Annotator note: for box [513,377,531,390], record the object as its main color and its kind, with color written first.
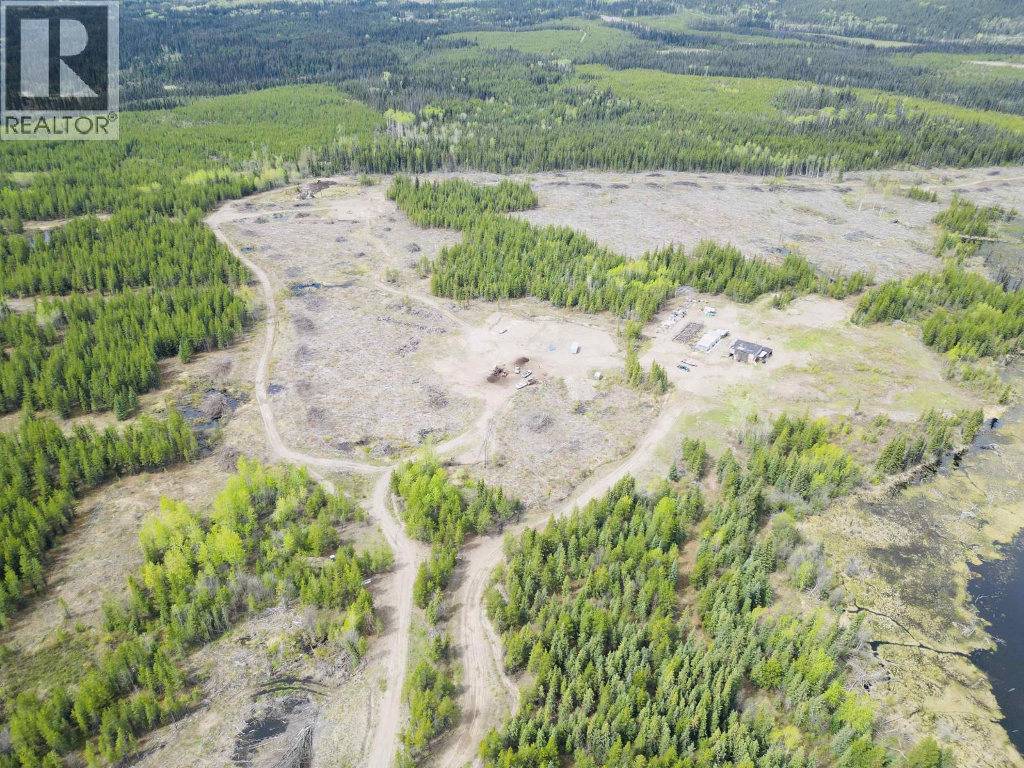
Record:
white vehicle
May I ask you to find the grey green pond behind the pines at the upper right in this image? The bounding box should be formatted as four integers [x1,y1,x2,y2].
[961,221,1024,295]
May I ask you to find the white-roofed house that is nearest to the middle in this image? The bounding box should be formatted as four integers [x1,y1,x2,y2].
[694,327,729,356]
